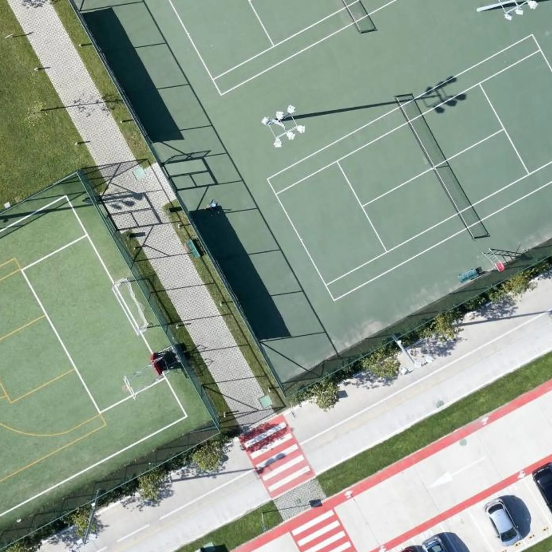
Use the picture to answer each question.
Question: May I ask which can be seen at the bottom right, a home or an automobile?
automobile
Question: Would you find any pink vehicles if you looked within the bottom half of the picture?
No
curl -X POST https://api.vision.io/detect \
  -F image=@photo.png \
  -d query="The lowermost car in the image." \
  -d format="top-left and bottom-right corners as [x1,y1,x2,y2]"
[427,533,455,552]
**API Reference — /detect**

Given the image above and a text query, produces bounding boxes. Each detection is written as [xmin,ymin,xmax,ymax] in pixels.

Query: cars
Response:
[427,533,455,552]
[482,494,523,547]
[532,461,552,511]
